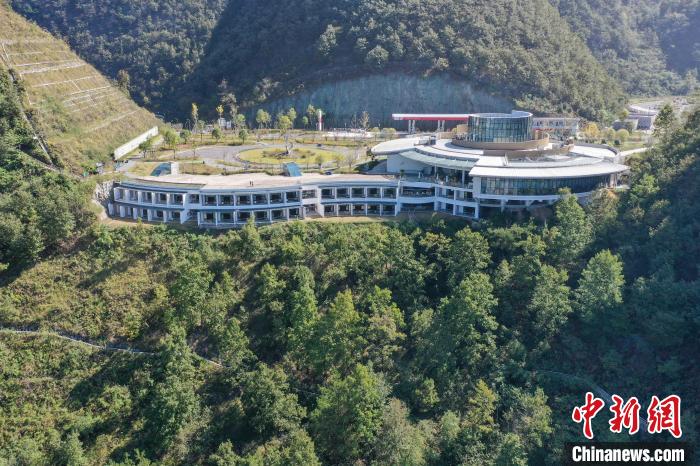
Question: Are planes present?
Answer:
No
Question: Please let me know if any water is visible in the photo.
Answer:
No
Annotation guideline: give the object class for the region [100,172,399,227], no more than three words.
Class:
building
